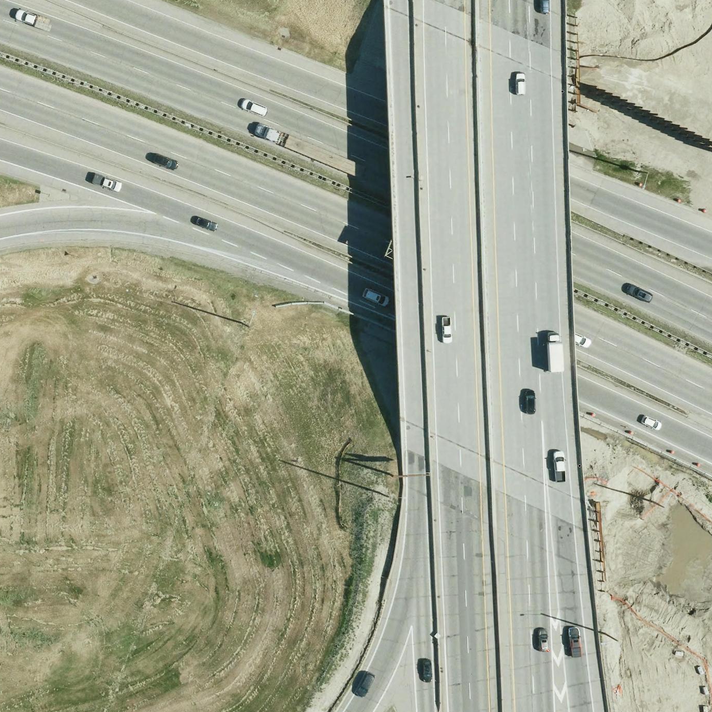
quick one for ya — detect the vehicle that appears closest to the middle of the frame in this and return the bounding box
[362,288,389,306]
